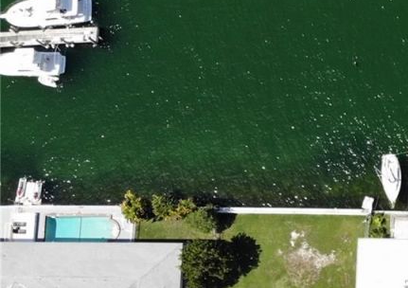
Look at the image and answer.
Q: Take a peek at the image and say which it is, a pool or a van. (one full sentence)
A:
Visible in the photo is a pool.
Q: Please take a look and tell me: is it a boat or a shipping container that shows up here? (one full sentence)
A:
Visible in the photo is a boat.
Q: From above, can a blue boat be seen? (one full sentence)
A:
No, I can't see a single blue boat in this photo.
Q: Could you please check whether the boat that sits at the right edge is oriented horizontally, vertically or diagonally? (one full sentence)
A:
What the image shows is the boat that sits at the right edge lying vertically.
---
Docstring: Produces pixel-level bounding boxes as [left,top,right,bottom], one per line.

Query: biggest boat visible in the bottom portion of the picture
[374,155,401,210]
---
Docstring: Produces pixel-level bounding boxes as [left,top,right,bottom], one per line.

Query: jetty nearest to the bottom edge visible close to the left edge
[15,178,44,206]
